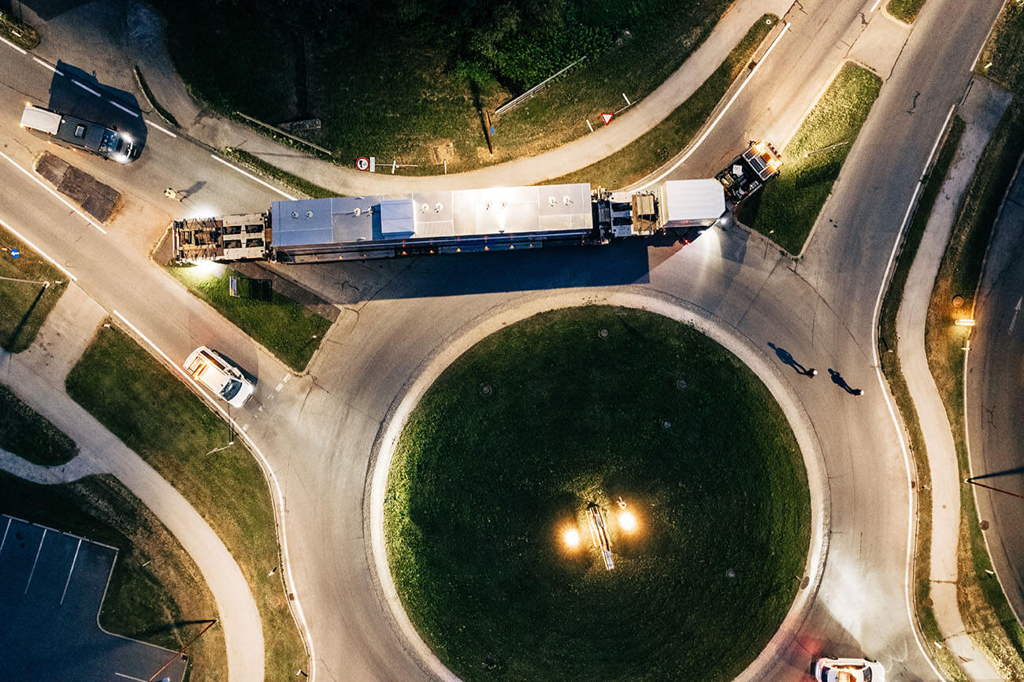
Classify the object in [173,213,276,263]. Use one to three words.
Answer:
trailer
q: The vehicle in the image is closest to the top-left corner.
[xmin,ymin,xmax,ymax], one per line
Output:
[10,94,140,161]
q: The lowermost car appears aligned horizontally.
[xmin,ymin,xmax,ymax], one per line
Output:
[810,652,883,682]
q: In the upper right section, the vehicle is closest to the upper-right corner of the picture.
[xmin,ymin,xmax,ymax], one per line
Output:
[713,127,799,213]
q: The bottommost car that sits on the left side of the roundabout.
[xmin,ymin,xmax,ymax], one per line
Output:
[185,346,251,405]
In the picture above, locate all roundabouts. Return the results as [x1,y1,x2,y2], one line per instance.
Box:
[284,206,910,682]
